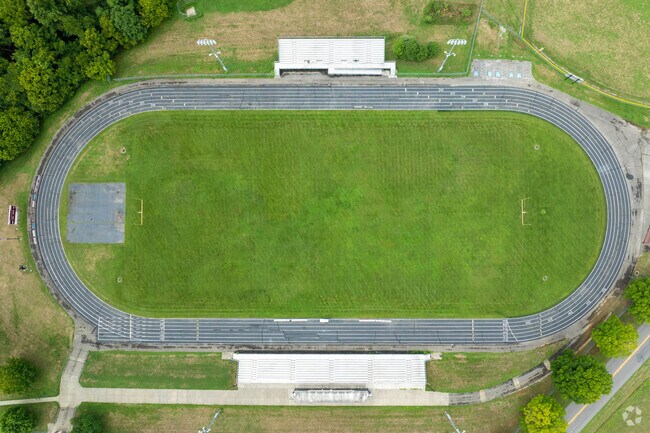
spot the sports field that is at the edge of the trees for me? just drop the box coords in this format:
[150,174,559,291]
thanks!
[59,110,607,318]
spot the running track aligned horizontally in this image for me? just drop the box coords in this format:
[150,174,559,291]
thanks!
[34,86,632,345]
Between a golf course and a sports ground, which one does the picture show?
sports ground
